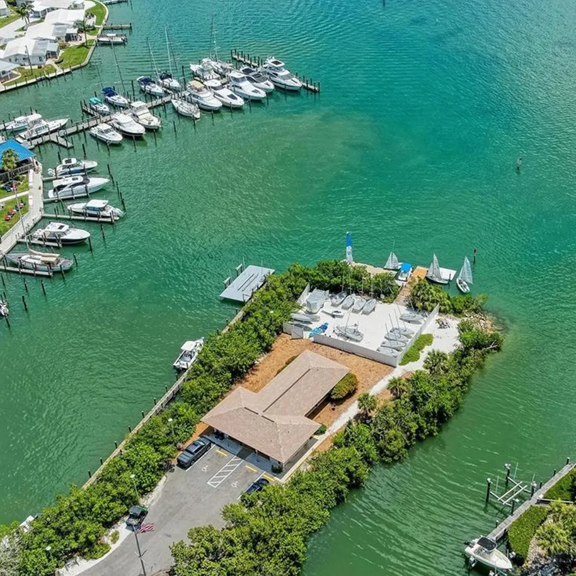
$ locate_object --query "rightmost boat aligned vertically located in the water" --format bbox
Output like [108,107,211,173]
[457,251,472,296]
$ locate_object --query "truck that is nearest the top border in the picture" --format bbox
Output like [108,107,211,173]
[171,435,215,467]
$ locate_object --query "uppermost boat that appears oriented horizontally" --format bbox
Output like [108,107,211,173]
[97,31,131,44]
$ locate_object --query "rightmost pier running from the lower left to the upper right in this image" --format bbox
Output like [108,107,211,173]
[480,452,576,544]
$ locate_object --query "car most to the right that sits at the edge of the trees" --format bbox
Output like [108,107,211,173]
[238,471,279,503]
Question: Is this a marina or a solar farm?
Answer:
marina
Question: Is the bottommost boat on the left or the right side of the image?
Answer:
right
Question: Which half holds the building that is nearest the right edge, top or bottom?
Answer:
bottom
